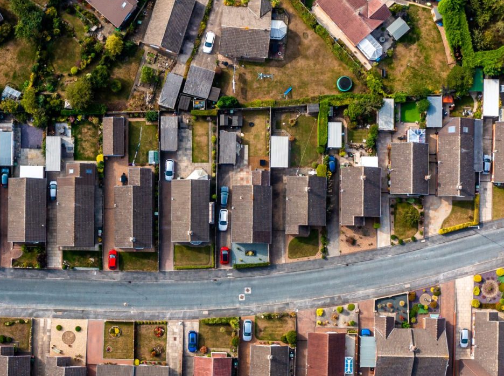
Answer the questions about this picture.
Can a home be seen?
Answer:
Yes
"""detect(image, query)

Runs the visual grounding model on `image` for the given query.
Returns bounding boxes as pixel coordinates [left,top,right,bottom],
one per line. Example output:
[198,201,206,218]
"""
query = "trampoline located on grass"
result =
[337,74,354,92]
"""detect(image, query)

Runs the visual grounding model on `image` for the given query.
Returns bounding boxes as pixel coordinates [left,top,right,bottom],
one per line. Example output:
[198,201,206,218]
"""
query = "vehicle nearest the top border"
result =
[203,31,215,54]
